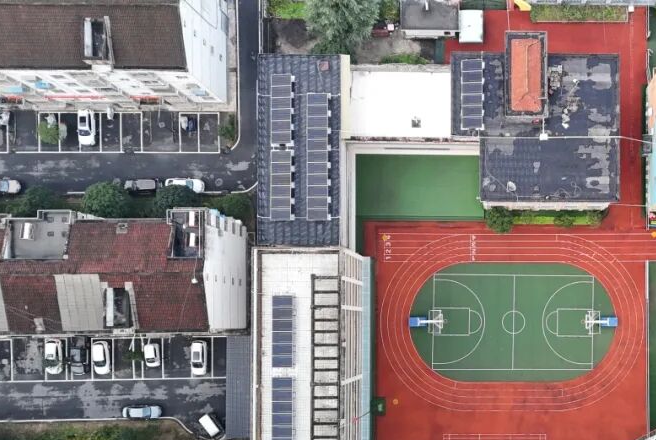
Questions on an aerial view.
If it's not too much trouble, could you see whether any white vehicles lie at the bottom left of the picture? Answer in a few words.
Yes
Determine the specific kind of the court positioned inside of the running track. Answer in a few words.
basketball court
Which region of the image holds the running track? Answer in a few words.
bottom right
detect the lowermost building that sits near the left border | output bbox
[0,204,247,334]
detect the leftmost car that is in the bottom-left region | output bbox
[43,338,64,376]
